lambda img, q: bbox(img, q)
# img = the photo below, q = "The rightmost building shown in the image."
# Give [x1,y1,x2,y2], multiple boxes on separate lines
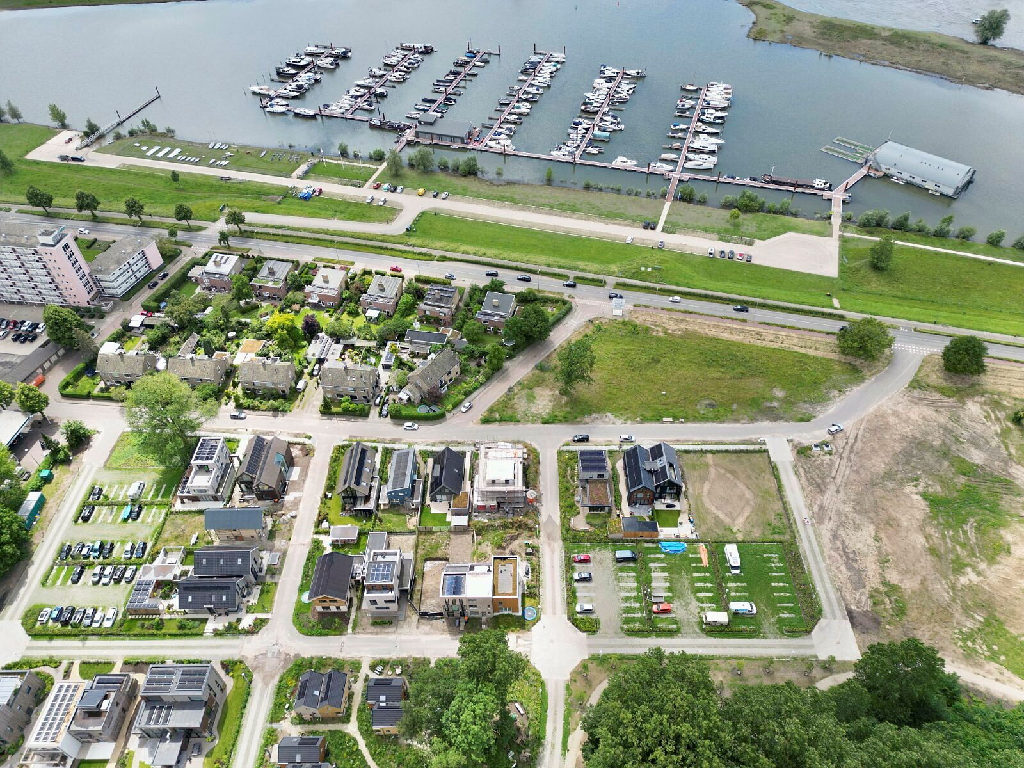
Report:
[867,136,972,202]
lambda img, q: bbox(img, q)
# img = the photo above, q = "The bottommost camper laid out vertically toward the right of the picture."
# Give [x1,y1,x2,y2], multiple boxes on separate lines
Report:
[726,539,740,576]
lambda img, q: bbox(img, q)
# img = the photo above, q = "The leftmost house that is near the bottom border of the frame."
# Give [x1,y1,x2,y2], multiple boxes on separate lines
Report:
[0,651,51,748]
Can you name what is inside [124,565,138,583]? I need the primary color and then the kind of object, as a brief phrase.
white car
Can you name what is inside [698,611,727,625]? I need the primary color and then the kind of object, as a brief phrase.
white camper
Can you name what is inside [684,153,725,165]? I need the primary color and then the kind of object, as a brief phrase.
white boat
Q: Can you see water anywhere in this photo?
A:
Yes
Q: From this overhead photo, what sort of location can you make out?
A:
residential area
